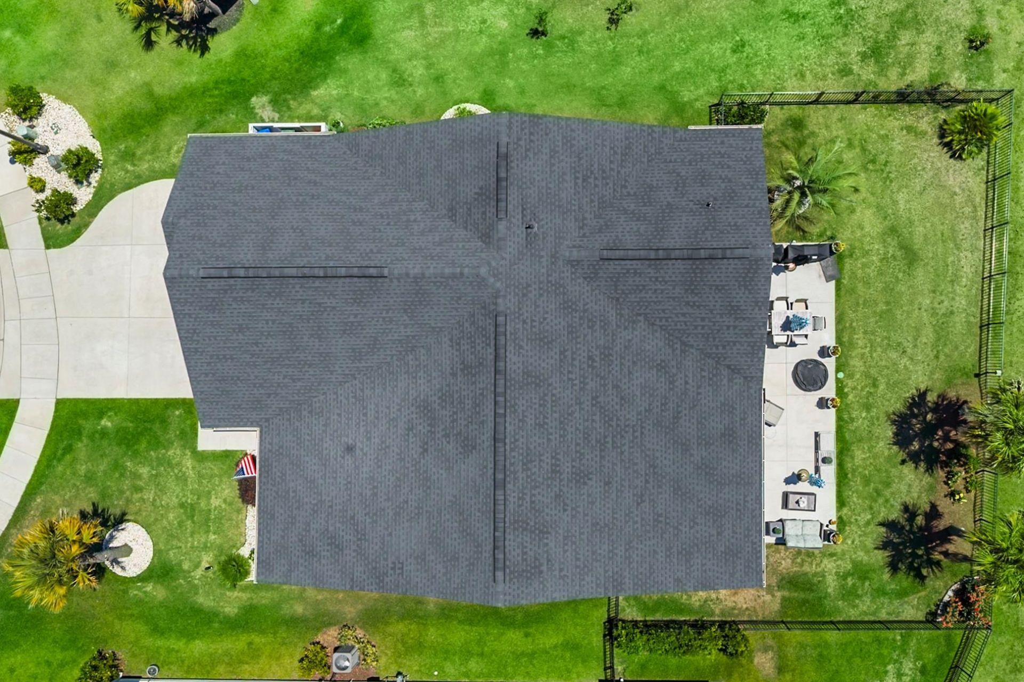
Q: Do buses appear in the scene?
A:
No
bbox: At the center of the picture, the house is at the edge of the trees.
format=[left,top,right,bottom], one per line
[163,112,772,607]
